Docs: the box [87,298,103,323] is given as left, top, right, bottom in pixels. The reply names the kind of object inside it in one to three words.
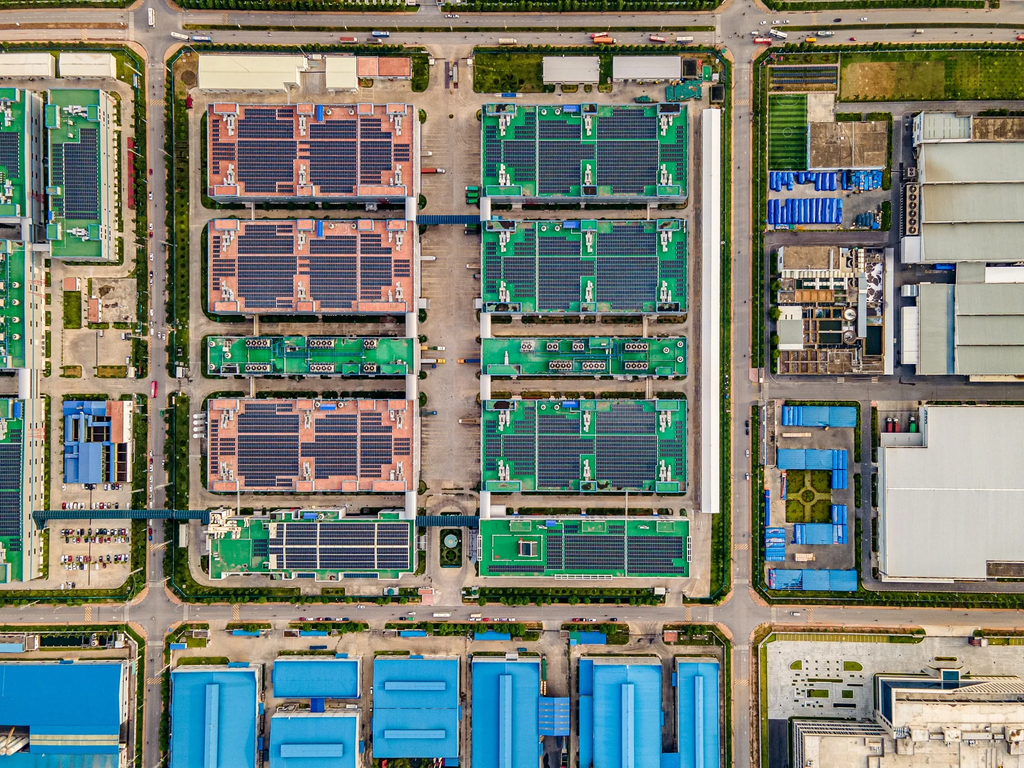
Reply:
shed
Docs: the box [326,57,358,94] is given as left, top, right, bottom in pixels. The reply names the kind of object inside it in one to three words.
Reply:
building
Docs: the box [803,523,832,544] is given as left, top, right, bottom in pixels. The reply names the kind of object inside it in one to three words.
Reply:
tent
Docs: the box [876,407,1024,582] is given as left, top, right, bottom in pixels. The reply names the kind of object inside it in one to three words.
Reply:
warehouse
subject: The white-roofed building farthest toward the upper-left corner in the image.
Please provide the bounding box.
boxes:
[0,54,58,82]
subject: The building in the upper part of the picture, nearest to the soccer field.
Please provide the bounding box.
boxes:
[806,121,889,170]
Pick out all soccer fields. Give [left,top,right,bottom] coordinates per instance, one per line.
[767,94,808,170]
